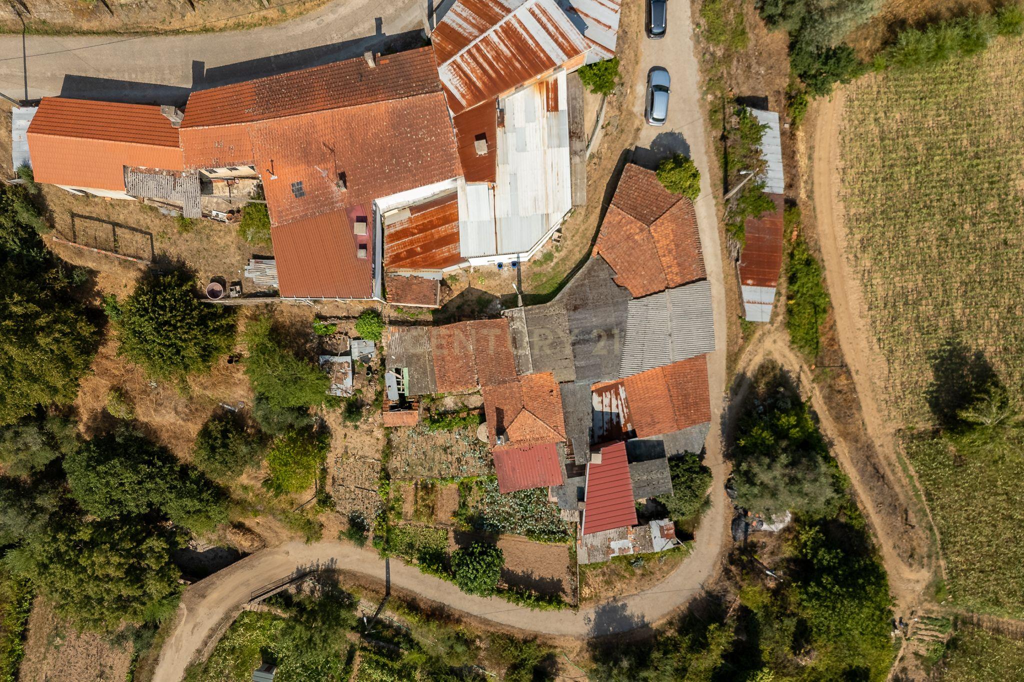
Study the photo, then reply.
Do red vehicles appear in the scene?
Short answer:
No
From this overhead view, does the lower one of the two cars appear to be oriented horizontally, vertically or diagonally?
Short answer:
vertically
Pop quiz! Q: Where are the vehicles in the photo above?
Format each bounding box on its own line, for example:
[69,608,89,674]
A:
[642,0,670,37]
[642,66,674,128]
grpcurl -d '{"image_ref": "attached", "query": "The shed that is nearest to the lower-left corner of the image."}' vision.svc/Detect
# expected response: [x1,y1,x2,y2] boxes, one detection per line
[252,653,287,682]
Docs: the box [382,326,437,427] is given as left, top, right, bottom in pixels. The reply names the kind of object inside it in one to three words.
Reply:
shed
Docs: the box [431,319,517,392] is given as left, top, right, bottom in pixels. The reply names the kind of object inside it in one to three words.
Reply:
house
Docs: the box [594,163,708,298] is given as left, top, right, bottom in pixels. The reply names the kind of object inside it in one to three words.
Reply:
house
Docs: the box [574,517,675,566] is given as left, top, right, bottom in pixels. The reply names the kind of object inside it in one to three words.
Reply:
shed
